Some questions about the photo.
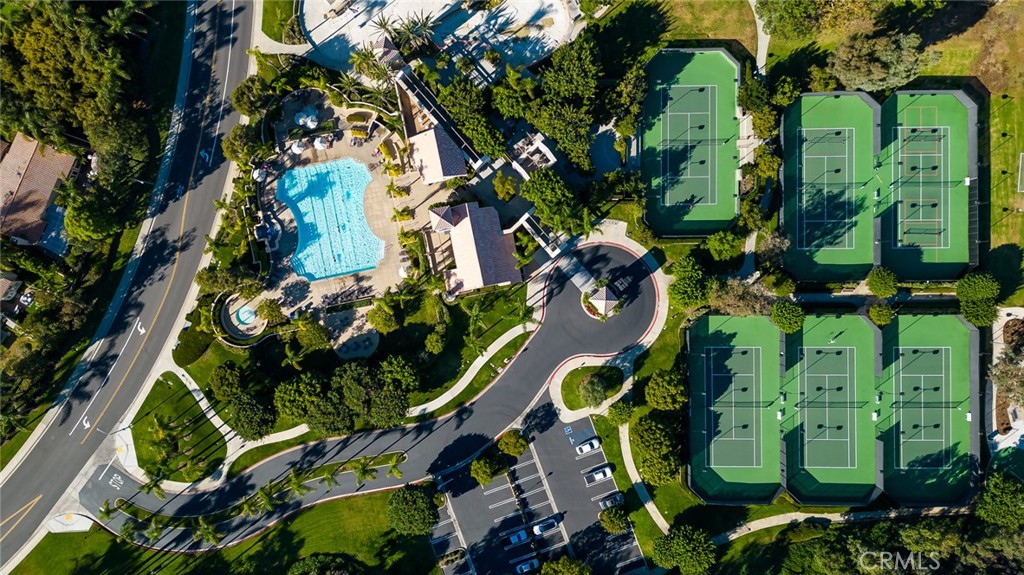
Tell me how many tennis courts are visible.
6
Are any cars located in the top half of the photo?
No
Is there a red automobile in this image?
No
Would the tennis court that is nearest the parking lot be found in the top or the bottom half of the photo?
bottom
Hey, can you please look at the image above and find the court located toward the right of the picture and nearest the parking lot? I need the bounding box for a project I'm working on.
[689,317,780,502]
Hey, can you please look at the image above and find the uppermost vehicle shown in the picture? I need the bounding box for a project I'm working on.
[576,438,600,454]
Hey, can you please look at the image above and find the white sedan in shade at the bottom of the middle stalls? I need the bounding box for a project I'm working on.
[515,557,540,573]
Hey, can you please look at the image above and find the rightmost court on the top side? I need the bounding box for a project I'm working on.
[873,95,968,280]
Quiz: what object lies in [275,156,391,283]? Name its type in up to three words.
swimming pool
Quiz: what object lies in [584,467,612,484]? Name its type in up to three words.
vehicle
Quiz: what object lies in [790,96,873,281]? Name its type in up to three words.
tennis court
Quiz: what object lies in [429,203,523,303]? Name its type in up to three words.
building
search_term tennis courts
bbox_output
[790,96,873,281]
[689,317,780,502]
[781,317,874,503]
[646,50,740,235]
[873,95,968,280]
[875,317,970,503]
